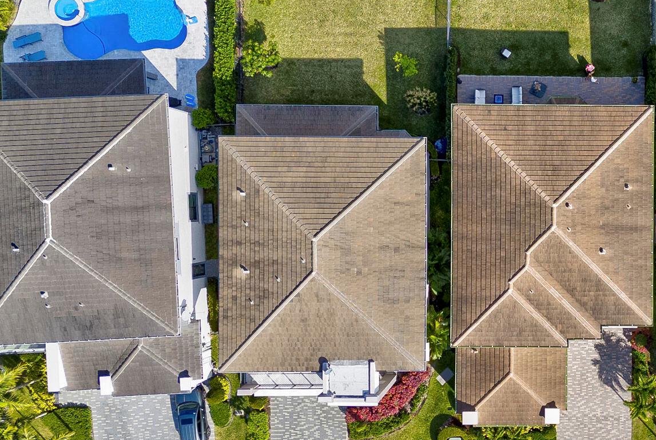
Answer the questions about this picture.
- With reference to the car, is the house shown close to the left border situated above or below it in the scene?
above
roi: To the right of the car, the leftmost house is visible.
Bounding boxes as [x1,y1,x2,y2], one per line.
[216,103,431,407]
